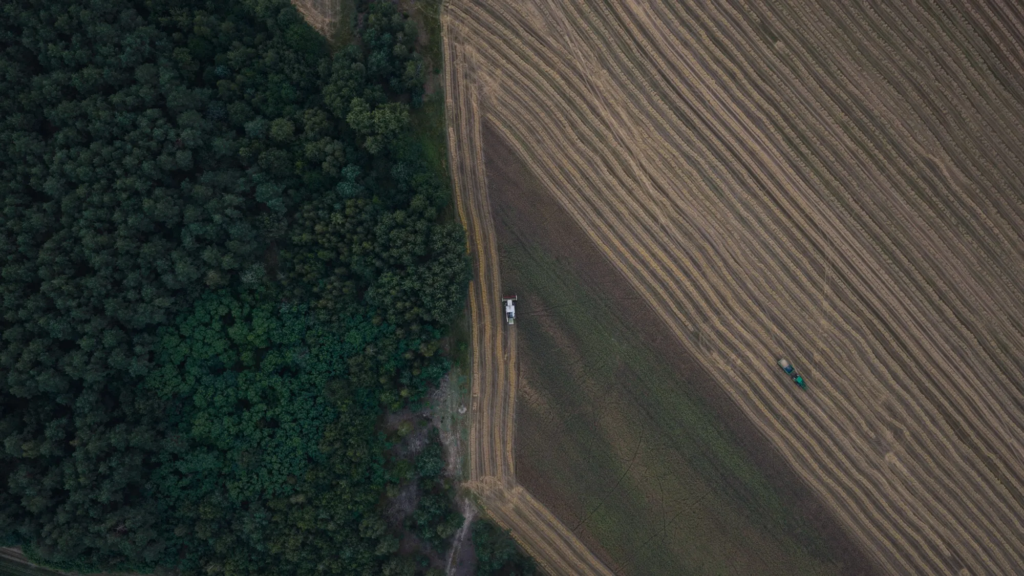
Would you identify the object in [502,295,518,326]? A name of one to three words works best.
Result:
work vehicle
